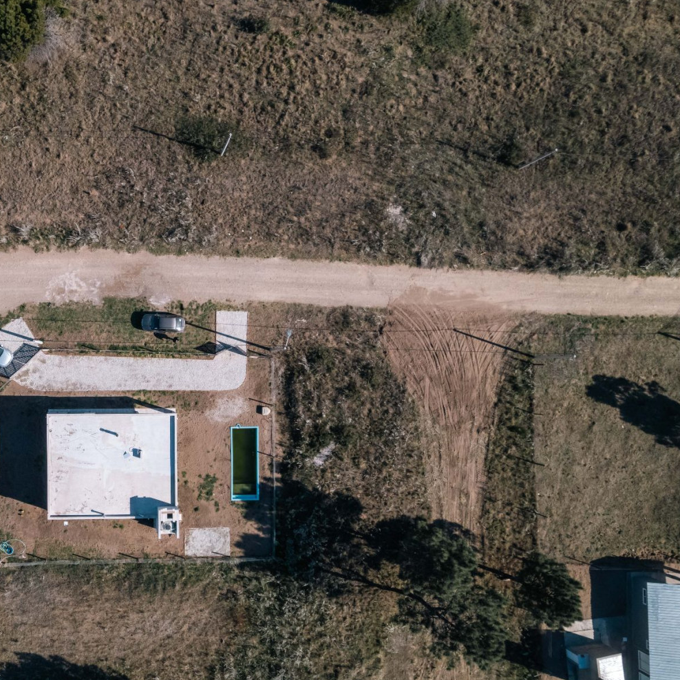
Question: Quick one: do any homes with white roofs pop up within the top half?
No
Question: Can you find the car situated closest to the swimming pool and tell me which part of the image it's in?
left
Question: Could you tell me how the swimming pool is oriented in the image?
up and down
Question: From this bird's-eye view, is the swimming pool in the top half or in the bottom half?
bottom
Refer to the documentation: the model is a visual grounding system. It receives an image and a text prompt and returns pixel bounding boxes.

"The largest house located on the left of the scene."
[48,408,177,519]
